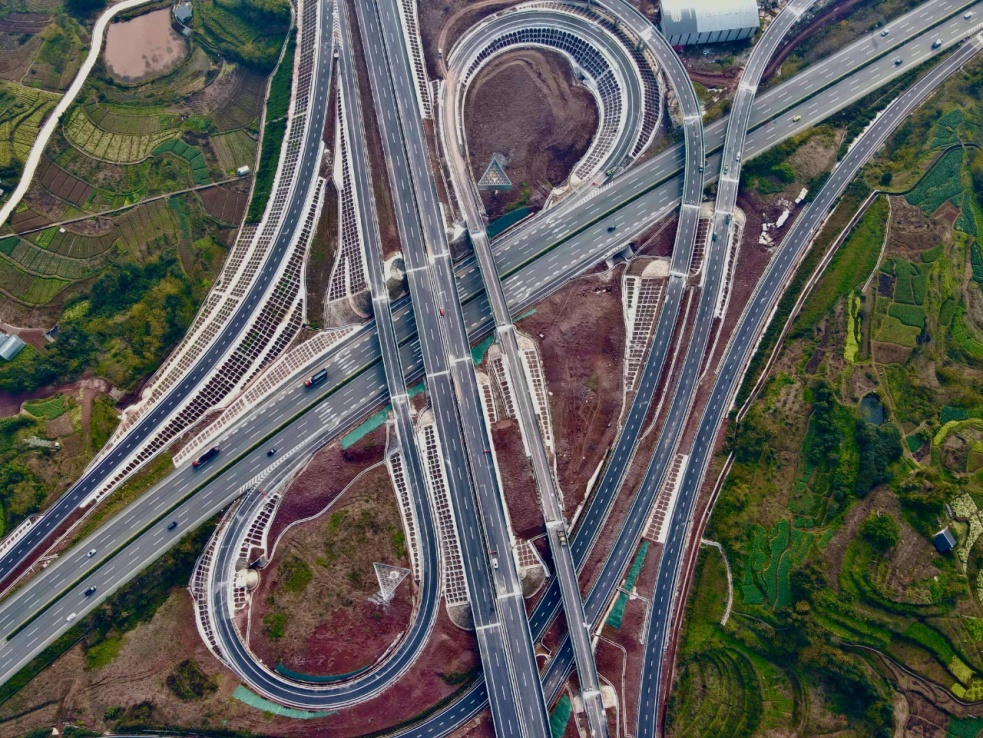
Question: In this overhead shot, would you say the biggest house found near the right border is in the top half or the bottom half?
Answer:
bottom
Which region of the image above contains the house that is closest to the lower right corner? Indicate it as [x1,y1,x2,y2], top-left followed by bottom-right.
[932,529,963,555]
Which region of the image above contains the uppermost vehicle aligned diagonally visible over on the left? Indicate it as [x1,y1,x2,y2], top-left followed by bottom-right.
[304,368,327,386]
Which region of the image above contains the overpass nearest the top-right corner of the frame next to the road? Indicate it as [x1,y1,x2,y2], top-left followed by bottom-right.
[715,0,816,214]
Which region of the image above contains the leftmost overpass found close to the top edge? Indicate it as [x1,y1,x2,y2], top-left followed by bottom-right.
[594,0,705,274]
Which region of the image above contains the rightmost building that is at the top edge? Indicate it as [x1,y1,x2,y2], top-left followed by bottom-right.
[663,0,760,47]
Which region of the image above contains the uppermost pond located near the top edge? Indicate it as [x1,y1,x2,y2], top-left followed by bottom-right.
[106,9,186,83]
